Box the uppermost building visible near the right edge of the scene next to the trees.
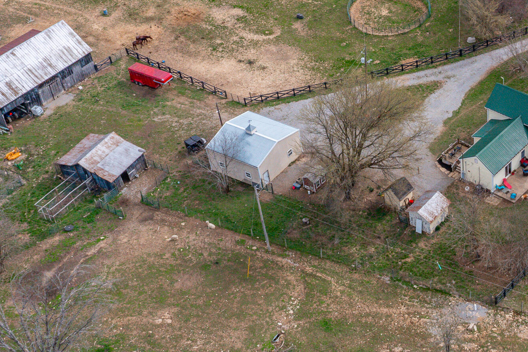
[457,77,528,192]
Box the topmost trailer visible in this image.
[126,62,171,89]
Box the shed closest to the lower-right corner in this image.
[404,191,450,234]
